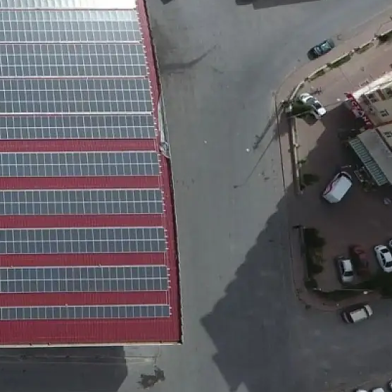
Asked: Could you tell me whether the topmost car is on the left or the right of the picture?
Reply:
right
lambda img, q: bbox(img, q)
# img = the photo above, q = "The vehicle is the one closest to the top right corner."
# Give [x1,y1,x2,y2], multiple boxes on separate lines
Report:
[304,38,336,60]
